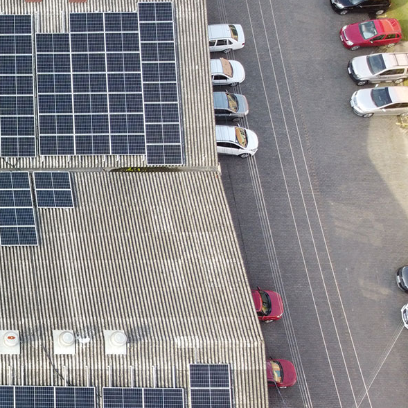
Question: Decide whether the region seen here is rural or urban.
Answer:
urban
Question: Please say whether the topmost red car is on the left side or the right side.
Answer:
right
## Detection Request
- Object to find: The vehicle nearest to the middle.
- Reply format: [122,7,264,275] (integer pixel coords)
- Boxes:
[215,123,259,158]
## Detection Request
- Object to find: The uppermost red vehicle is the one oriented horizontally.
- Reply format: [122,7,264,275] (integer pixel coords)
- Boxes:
[335,14,408,50]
